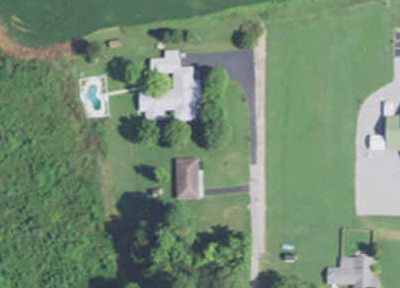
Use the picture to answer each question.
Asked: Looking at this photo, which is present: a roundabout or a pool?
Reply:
pool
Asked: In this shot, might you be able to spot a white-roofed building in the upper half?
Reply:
Yes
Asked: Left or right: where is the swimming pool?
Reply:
left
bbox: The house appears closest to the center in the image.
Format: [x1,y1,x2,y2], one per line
[176,158,204,200]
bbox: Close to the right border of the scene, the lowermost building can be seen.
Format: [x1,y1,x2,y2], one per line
[328,256,380,288]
